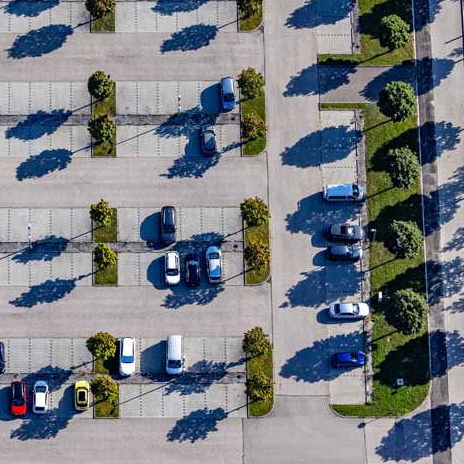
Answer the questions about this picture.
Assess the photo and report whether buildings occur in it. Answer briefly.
No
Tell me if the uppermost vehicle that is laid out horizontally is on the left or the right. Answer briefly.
right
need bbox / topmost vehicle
[220,79,237,111]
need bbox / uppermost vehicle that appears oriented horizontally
[324,183,365,203]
